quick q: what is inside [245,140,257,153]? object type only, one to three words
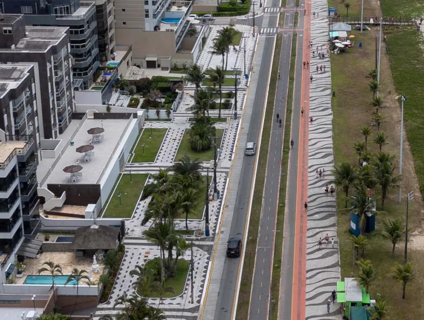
vehicle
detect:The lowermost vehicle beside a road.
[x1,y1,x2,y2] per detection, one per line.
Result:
[226,235,242,257]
